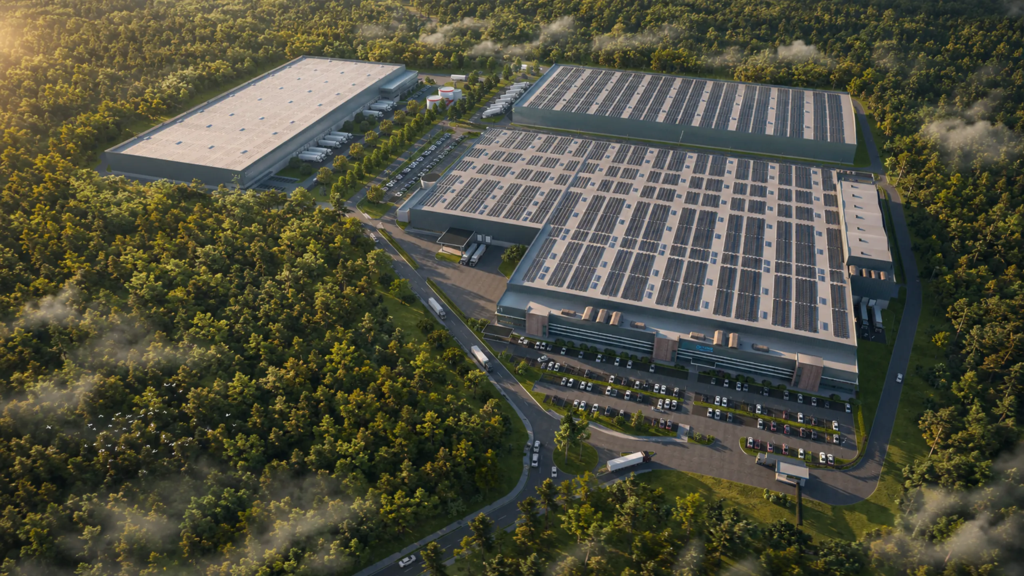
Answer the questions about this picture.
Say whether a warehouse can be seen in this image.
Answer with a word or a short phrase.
Yes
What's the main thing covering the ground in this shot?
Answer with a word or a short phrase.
trees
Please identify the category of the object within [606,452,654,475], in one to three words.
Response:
truck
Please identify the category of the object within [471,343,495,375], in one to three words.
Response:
truck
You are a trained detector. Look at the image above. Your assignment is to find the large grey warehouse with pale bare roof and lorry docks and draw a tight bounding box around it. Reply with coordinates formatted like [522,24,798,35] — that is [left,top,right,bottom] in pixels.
[105,53,419,191]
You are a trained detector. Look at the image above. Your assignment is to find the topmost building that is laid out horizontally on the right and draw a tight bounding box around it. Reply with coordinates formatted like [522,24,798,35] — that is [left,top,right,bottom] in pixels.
[513,63,858,164]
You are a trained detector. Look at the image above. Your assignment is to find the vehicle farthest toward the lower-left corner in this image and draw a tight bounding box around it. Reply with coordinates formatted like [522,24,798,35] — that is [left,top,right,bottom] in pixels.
[399,554,416,567]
